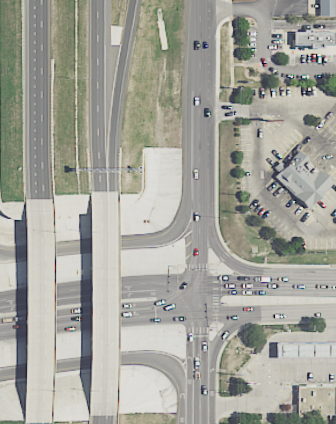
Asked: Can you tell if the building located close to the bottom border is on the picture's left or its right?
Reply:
right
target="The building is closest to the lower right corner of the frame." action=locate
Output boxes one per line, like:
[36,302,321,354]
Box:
[298,384,336,418]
